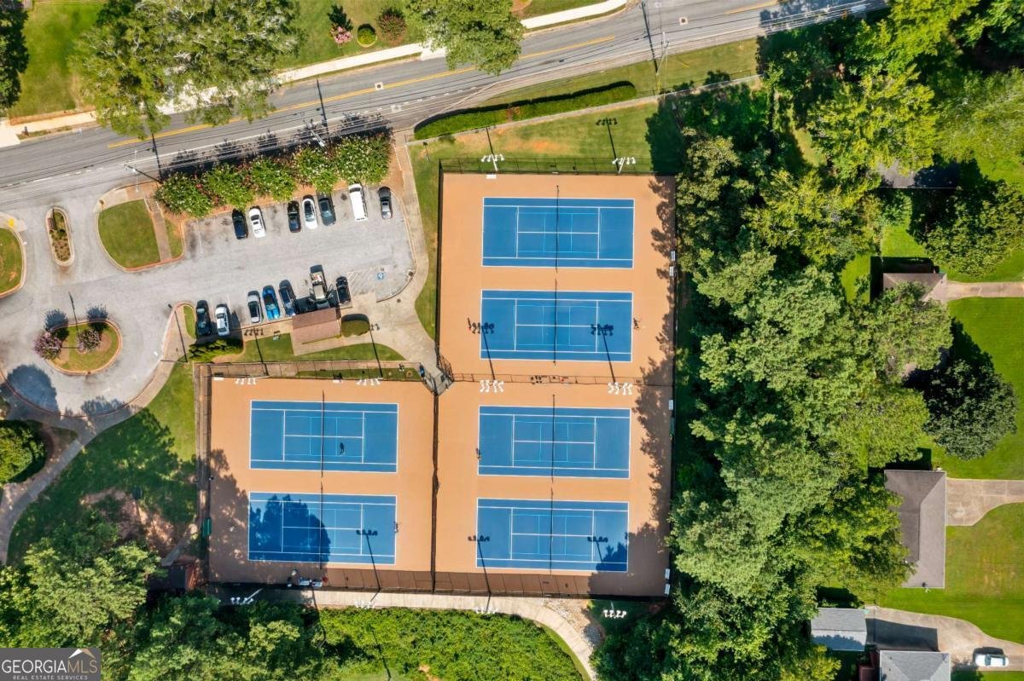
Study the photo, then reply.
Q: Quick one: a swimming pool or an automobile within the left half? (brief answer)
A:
automobile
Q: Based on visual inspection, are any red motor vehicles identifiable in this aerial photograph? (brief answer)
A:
No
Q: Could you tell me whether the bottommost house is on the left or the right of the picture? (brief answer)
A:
right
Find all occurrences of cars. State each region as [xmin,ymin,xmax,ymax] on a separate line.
[263,287,280,319]
[308,265,332,304]
[347,184,367,221]
[302,196,318,228]
[247,292,263,323]
[248,206,266,238]
[286,202,302,231]
[974,652,1008,668]
[196,303,211,335]
[378,187,393,219]
[336,277,351,307]
[214,305,231,336]
[231,209,248,240]
[279,283,297,315]
[318,193,336,225]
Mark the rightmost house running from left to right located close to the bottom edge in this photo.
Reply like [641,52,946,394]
[872,646,951,681]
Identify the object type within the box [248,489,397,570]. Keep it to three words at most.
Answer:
tennis court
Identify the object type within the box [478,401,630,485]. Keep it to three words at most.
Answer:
tennis court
